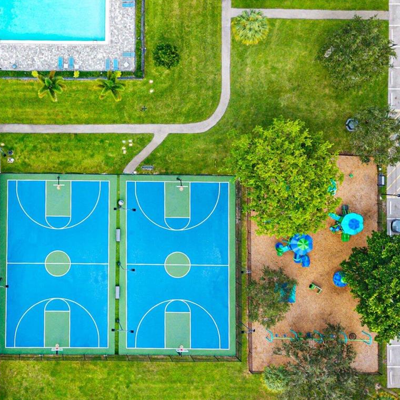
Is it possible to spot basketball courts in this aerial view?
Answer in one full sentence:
Yes, a basketball court is visible in the scene.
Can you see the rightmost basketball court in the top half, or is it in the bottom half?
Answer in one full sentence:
Seen from above, the rightmost basketball court lies in the bottom half of the view.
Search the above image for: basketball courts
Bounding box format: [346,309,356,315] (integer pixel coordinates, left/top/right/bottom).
[0,175,117,355]
[120,175,236,356]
